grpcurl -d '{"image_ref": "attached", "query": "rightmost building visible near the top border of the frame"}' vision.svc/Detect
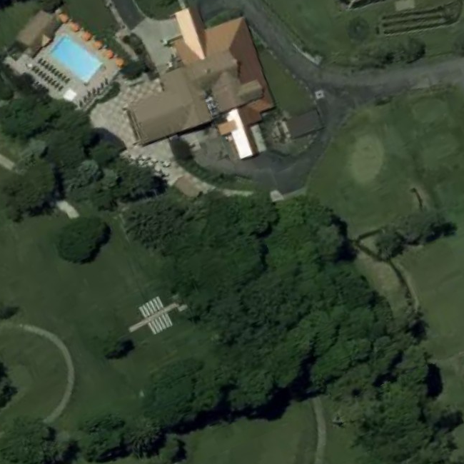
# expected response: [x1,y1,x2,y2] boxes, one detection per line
[128,9,274,162]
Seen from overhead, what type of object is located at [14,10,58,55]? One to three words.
building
